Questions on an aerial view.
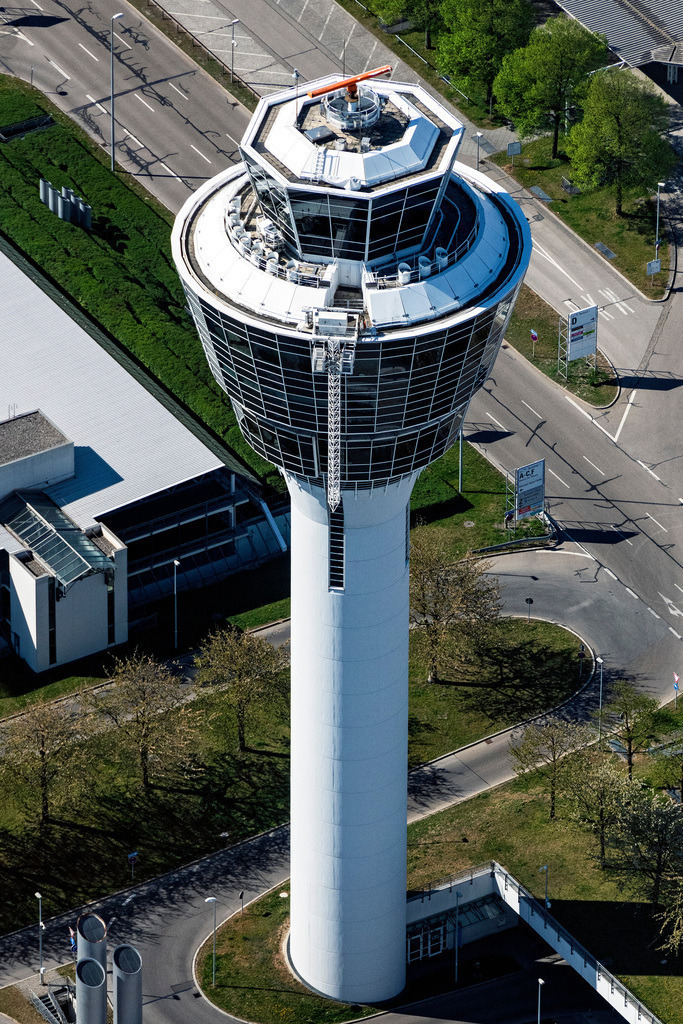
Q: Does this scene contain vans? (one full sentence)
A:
No, there's no van here.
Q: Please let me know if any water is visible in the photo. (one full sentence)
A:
No, water can't be seen anywhere here.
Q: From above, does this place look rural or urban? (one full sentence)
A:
This place is urban.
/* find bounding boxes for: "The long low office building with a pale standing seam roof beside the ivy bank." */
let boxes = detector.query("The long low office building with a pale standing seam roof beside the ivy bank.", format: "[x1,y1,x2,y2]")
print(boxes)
[0,230,288,662]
